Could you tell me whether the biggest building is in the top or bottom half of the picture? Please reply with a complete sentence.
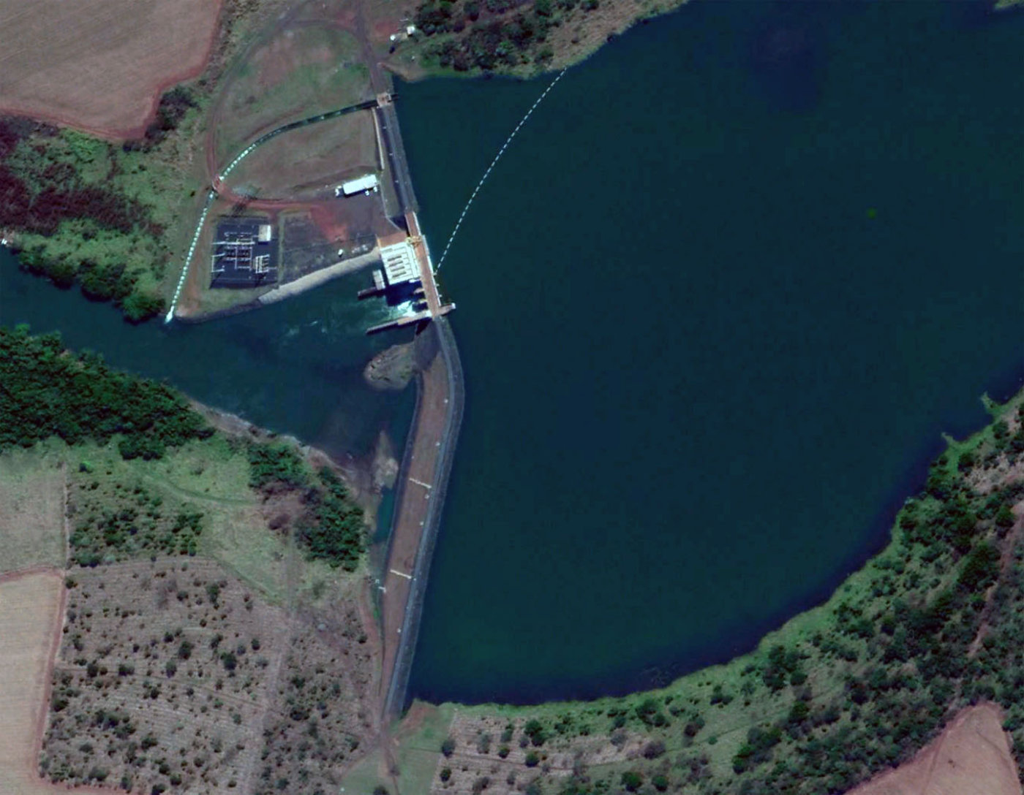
Seen from above, the biggest building lies in the top half of the view.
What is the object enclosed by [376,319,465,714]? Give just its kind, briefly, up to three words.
dam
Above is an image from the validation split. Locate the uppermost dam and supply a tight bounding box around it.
[376,73,418,213]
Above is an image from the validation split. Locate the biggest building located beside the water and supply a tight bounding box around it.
[376,233,423,284]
